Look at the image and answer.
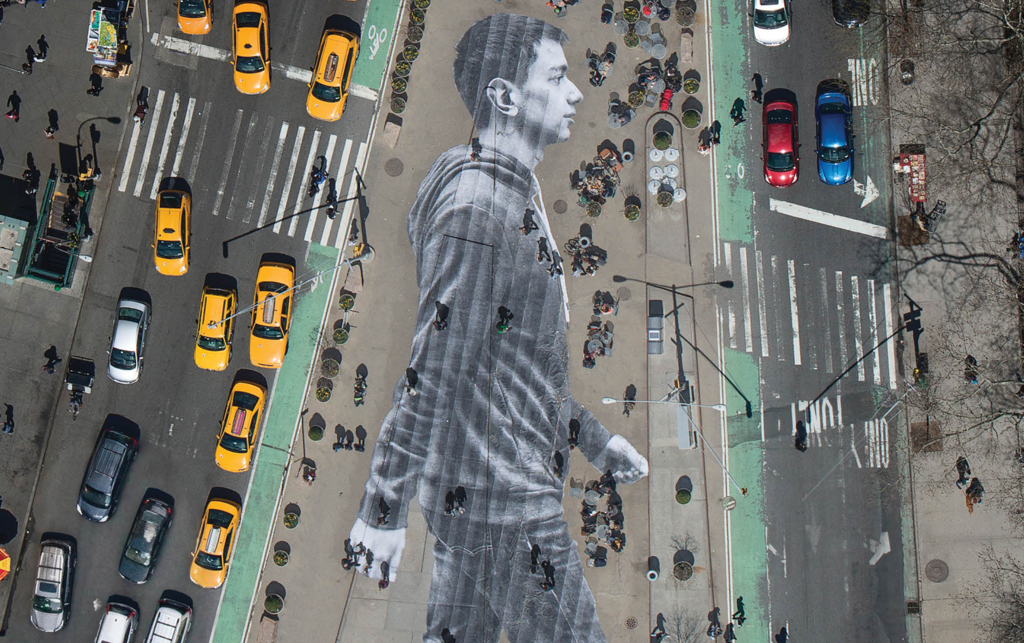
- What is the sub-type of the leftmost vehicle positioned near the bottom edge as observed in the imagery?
automobile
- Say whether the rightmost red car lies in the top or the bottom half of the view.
top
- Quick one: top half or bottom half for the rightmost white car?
top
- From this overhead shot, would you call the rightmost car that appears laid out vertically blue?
Yes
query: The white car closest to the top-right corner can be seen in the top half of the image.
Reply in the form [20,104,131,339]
[748,0,791,45]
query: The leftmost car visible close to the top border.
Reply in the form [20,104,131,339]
[171,0,215,34]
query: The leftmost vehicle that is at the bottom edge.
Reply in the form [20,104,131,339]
[26,540,79,633]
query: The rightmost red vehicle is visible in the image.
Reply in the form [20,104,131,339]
[758,101,801,187]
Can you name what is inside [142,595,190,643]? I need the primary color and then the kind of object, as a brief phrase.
white car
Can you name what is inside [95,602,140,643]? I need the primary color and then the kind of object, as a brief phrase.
white car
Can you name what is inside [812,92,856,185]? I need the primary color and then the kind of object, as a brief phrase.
blue car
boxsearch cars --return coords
[812,92,856,185]
[748,0,791,45]
[187,497,242,590]
[214,378,270,474]
[171,0,215,34]
[189,284,239,371]
[95,602,140,643]
[26,540,79,633]
[829,0,873,27]
[306,26,360,121]
[104,296,153,384]
[142,595,190,643]
[75,423,142,525]
[149,190,194,275]
[229,2,272,94]
[119,496,175,586]
[245,263,297,368]
[758,101,801,187]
